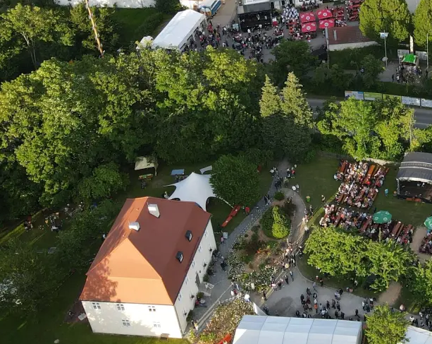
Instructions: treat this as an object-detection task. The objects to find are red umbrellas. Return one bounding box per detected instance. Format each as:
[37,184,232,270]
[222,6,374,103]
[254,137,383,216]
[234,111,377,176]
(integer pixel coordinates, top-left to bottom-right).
[299,13,316,25]
[300,24,318,40]
[316,9,335,20]
[318,20,337,35]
